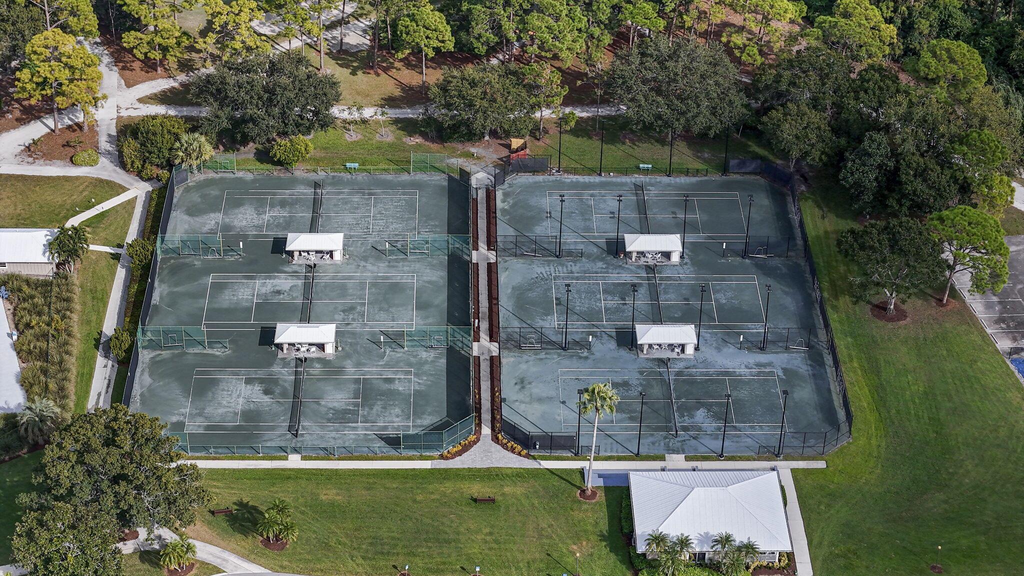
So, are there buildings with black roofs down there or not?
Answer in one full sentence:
No, I can see no building with a black roof in this picture.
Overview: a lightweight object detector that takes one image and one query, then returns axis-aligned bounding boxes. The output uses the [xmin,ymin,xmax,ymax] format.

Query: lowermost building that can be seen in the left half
[274,323,337,357]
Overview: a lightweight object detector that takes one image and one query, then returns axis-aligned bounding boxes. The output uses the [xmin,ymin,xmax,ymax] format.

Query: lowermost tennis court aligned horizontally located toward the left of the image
[123,350,473,454]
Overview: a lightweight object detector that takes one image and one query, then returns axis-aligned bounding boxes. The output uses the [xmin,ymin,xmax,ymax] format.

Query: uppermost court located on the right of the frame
[495,176,806,259]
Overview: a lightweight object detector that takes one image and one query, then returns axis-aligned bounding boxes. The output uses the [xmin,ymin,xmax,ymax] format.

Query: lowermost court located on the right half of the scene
[499,350,850,455]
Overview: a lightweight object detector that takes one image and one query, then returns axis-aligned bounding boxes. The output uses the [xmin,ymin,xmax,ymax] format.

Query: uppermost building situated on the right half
[623,233,682,265]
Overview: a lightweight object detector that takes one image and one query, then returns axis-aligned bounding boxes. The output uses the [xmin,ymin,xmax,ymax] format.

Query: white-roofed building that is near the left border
[0,229,60,275]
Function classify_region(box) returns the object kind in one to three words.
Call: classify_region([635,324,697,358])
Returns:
building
